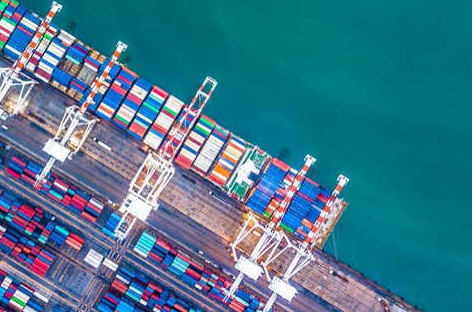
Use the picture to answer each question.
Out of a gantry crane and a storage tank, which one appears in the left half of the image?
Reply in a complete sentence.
Looking in the left half of the image, you will find a gantry crane.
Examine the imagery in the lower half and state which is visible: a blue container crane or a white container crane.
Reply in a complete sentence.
Visible in the lower half is a white container crane.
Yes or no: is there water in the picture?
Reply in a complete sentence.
Yes, the picture does contain water.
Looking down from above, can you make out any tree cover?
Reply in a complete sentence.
No, there's no tree cover in this view.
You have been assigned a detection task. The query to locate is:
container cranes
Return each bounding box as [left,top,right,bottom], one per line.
[112,74,220,240]
[0,3,61,123]
[224,155,316,298]
[262,177,352,312]
[34,42,127,185]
